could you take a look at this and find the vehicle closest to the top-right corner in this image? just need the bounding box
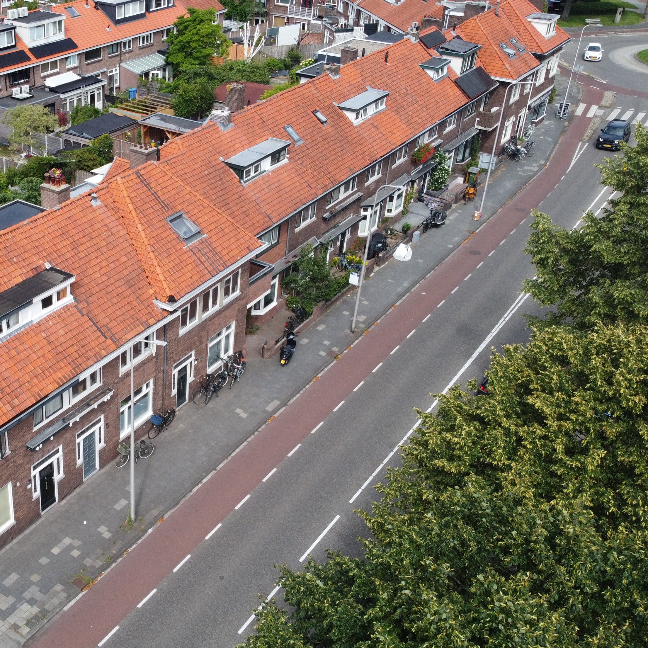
[585,41,607,61]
